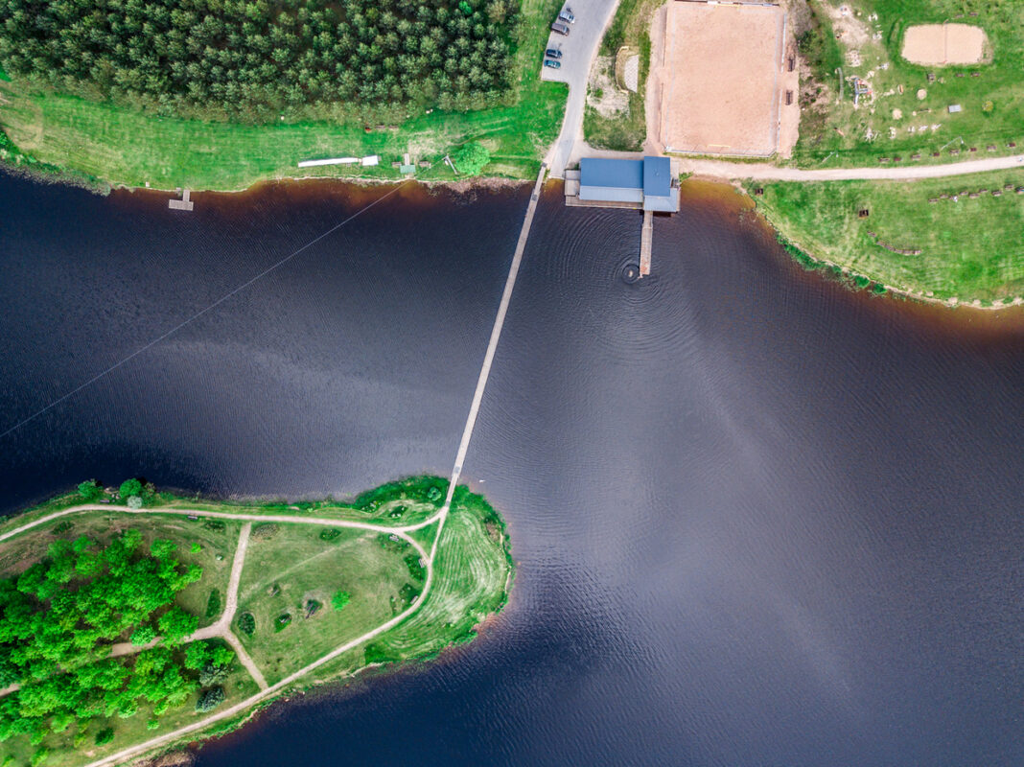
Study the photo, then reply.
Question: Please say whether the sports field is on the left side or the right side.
right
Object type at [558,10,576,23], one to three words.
vehicle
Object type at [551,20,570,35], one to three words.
car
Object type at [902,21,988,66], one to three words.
sports court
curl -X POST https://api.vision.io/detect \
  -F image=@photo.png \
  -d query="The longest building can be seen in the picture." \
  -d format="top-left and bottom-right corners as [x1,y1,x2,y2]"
[565,156,680,212]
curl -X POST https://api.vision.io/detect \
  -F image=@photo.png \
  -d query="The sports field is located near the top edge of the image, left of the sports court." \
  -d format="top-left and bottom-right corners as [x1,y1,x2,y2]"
[660,0,787,156]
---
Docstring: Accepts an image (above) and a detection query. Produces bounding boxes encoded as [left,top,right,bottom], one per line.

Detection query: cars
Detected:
[551,20,570,35]
[546,48,563,58]
[558,10,576,23]
[544,58,561,68]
